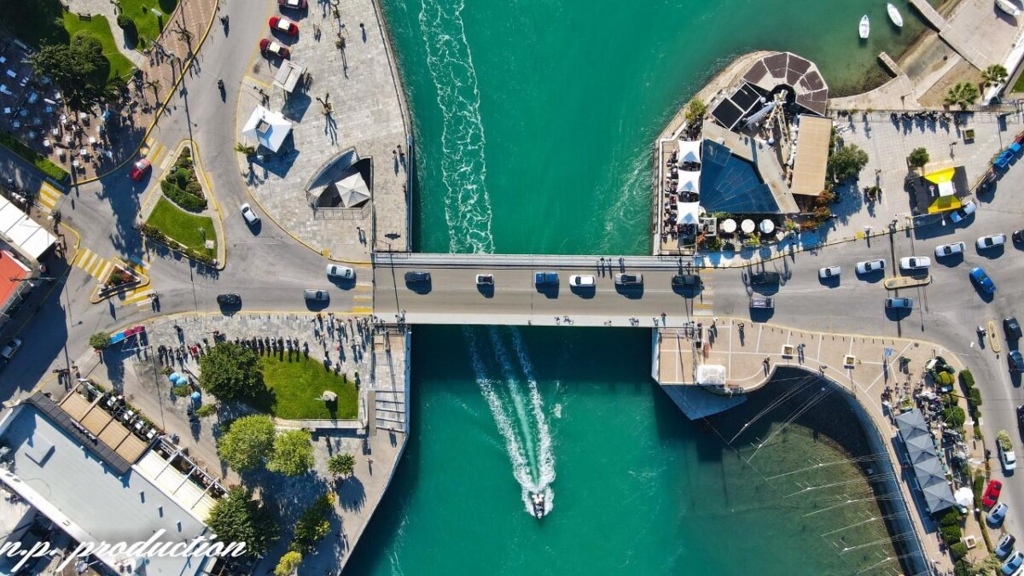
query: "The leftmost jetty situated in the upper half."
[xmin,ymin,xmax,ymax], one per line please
[826,52,914,108]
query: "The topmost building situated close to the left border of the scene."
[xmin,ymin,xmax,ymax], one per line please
[0,236,65,360]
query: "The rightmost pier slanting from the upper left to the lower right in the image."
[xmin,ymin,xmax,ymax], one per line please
[903,0,949,35]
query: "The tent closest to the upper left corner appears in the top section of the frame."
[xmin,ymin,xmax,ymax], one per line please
[247,107,299,157]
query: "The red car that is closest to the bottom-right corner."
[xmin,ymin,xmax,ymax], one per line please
[983,479,1001,508]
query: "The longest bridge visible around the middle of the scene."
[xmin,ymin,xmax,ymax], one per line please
[372,253,695,328]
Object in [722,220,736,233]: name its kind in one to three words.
umbrella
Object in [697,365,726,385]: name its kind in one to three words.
building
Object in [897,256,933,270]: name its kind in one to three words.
vehicle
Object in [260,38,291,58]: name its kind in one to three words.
car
